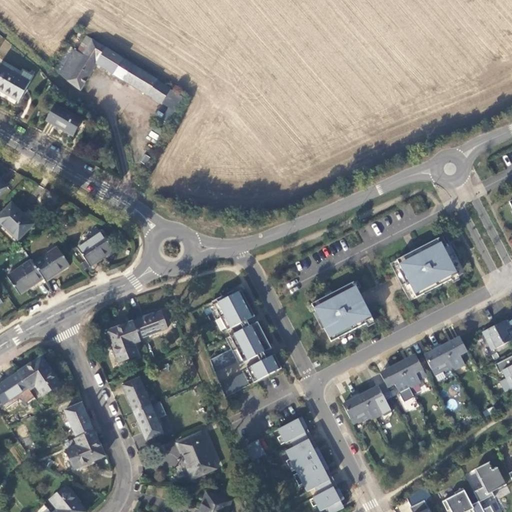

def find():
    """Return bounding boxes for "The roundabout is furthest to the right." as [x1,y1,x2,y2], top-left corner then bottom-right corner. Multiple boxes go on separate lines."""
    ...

[430,148,470,189]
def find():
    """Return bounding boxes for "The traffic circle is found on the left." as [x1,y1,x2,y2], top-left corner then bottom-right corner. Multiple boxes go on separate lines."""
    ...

[144,220,201,277]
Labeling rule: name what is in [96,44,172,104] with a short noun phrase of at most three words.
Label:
barn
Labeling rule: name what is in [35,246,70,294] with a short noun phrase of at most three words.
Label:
house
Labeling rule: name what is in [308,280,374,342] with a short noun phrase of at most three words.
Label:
building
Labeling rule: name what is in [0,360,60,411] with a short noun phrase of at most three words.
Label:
house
